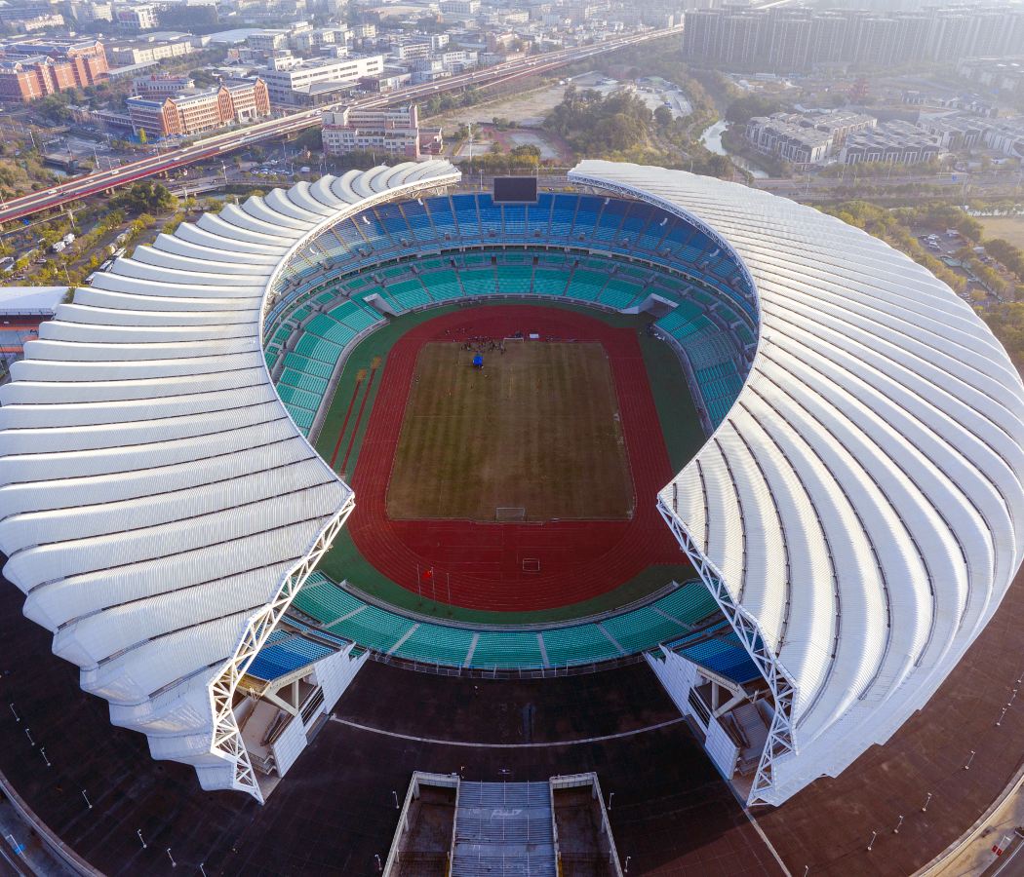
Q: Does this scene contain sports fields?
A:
Yes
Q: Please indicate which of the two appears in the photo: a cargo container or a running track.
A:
running track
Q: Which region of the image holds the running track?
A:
center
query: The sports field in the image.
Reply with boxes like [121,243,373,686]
[387,341,631,520]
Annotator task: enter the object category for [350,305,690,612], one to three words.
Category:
running track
